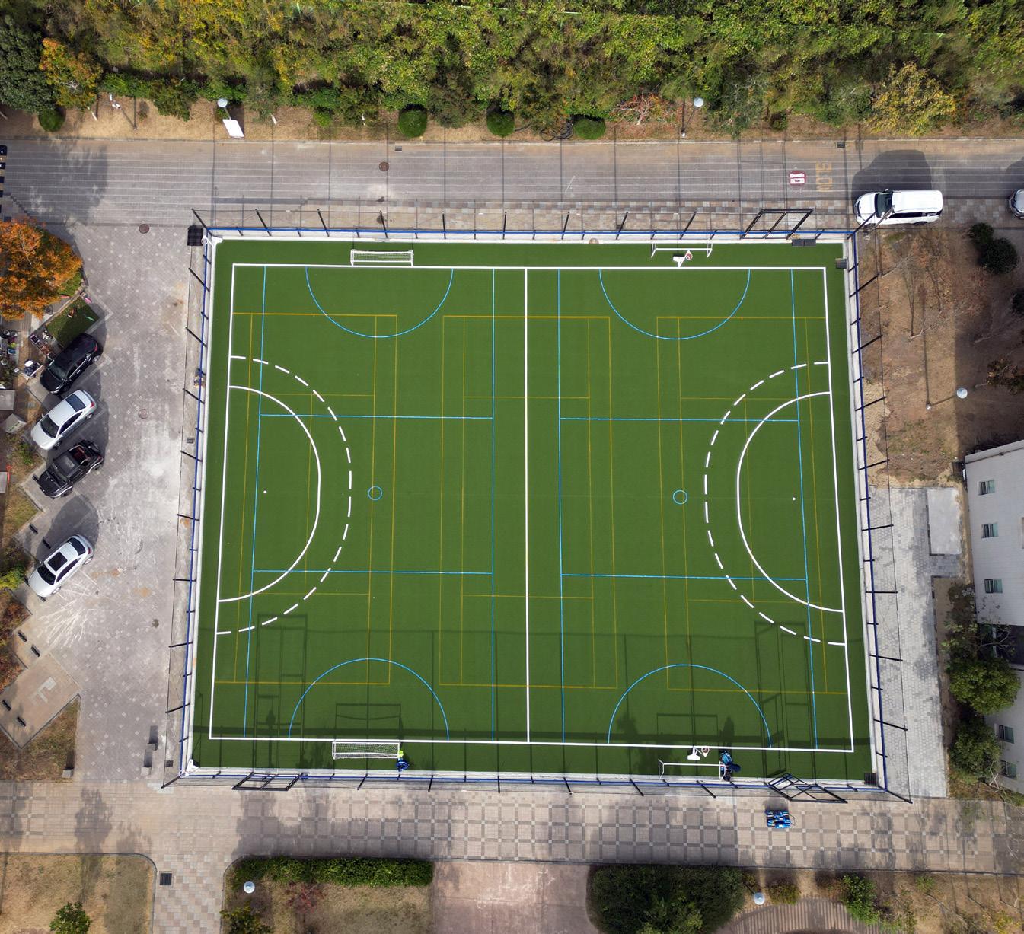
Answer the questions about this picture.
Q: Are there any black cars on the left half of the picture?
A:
Yes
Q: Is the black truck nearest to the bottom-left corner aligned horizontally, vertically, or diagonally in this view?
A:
diagonally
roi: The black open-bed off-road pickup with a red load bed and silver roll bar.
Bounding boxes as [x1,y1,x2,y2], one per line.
[36,440,107,502]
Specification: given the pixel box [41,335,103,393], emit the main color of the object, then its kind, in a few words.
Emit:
black car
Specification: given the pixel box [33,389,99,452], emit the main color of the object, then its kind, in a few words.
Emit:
white car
